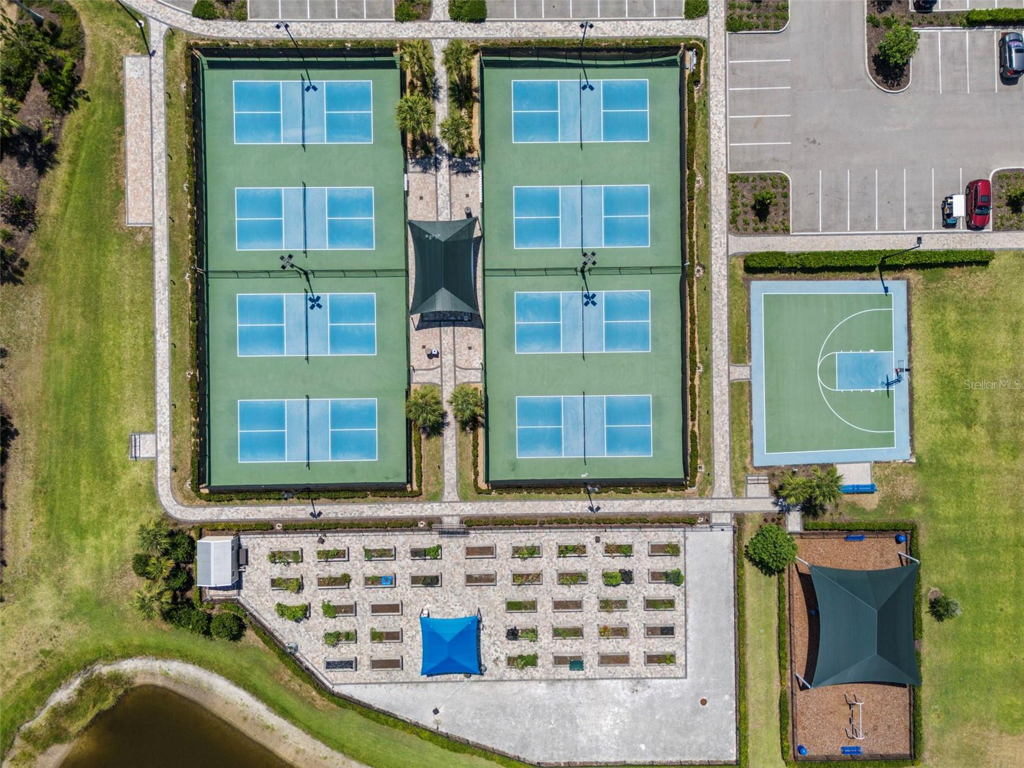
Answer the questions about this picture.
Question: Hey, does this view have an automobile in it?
Yes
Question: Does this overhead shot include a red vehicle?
Yes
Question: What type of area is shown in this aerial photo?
sports ground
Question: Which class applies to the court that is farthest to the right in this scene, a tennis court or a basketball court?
basketball court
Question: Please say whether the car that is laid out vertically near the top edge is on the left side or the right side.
right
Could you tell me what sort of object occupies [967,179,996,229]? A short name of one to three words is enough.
car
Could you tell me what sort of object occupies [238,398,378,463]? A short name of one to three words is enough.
sports court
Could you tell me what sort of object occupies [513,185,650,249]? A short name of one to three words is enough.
sports court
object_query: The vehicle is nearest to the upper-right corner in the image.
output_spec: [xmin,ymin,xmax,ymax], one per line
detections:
[1000,28,1024,79]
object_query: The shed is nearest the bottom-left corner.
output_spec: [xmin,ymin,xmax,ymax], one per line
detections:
[197,536,240,589]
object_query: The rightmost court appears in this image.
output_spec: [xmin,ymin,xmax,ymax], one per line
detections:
[762,293,896,454]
